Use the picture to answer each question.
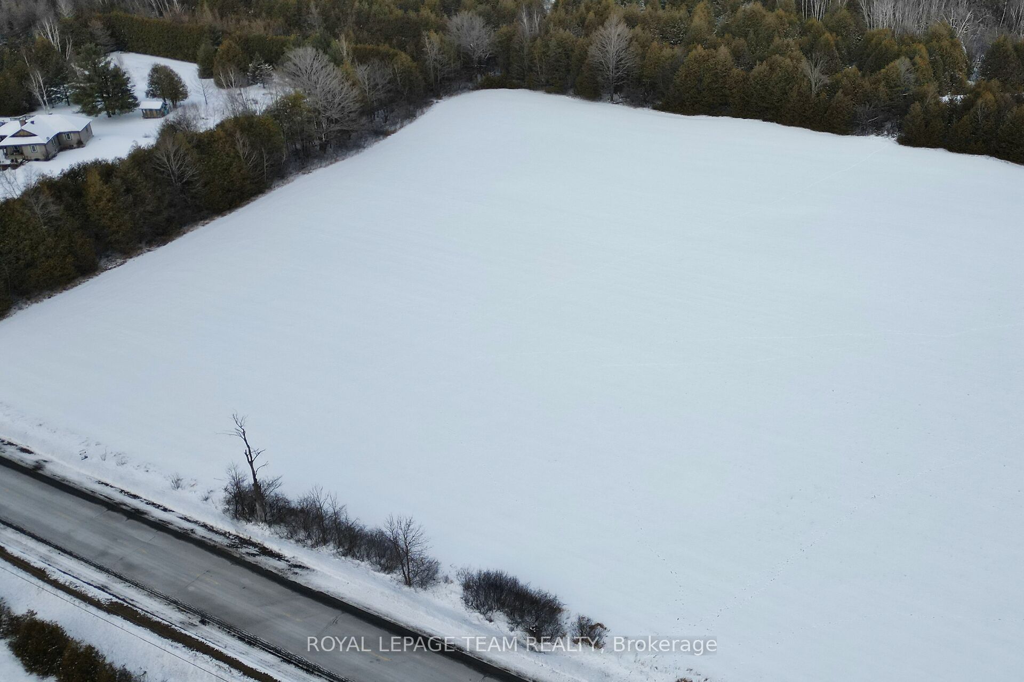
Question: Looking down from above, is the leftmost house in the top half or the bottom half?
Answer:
top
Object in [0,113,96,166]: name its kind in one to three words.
house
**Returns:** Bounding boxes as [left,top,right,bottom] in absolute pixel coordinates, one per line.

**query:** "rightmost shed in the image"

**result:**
[135,98,167,118]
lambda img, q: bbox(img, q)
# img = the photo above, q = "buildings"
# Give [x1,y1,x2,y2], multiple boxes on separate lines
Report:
[135,98,167,118]
[0,113,96,166]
